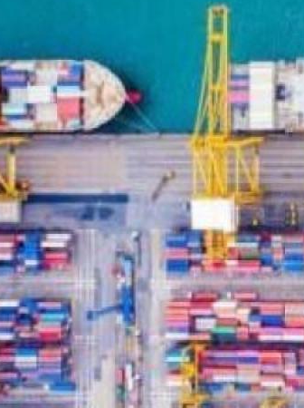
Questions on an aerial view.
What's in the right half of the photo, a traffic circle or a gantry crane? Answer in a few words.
gantry crane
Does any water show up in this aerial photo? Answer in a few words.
Yes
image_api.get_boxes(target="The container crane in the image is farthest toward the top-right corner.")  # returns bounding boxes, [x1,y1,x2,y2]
[190,6,267,261]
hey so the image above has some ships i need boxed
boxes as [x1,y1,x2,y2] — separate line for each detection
[0,61,140,129]
[229,62,304,129]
